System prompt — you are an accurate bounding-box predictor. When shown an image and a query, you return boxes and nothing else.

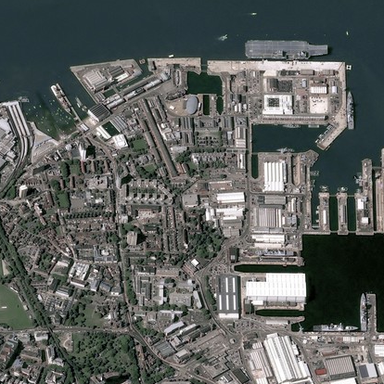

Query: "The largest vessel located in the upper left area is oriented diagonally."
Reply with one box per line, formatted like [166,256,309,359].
[51,85,74,117]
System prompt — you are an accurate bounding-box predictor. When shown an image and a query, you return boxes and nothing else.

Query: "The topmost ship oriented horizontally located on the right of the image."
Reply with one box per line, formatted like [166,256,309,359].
[246,39,327,59]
